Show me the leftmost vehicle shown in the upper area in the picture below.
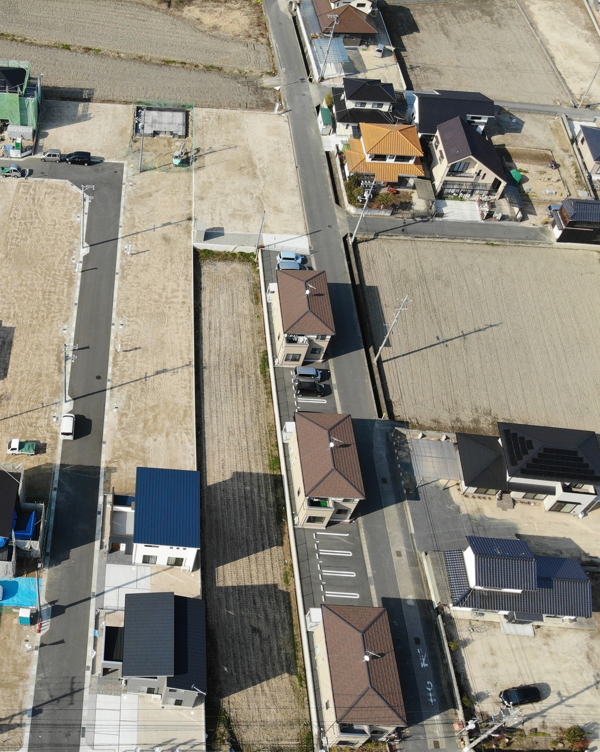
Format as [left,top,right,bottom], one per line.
[0,163,21,177]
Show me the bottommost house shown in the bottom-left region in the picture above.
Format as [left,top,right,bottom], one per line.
[99,594,209,708]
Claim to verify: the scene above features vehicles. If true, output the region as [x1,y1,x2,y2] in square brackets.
[8,439,36,455]
[60,409,76,438]
[276,259,310,270]
[0,163,21,177]
[173,142,186,164]
[41,149,62,162]
[292,366,323,382]
[494,683,547,709]
[276,251,303,263]
[371,41,387,58]
[65,149,94,164]
[543,200,563,214]
[296,381,324,398]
